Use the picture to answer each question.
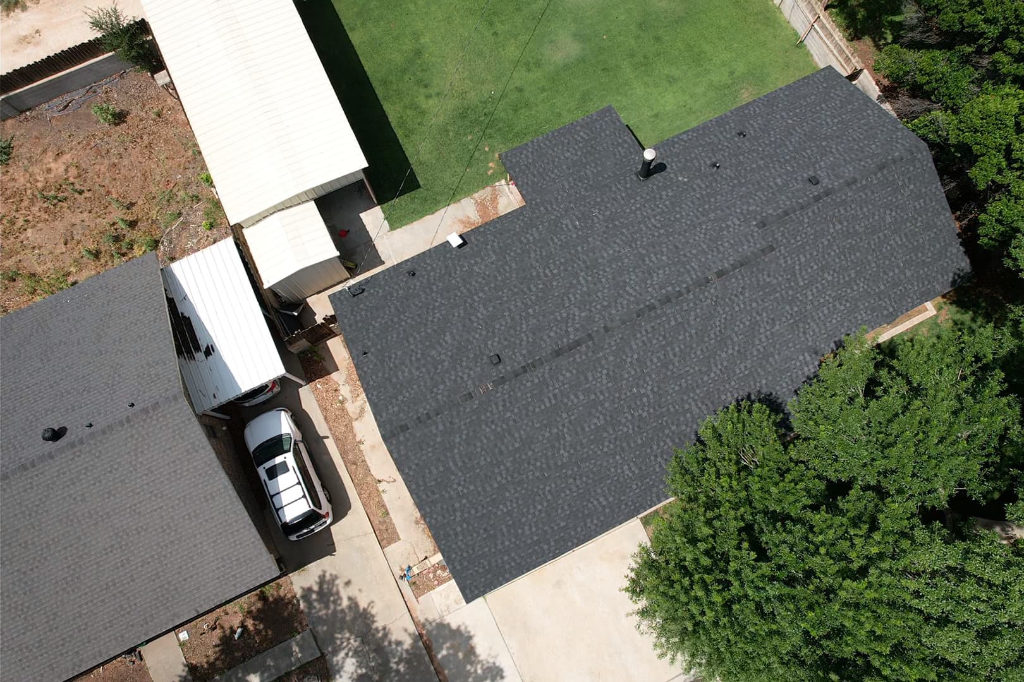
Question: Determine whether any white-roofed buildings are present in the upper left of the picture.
Yes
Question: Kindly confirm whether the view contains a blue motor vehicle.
No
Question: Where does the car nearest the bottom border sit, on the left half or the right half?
left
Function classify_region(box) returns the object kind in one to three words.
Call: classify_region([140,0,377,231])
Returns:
building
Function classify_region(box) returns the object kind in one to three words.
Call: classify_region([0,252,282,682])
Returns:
house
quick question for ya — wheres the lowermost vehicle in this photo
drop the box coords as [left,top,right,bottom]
[251,407,335,548]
